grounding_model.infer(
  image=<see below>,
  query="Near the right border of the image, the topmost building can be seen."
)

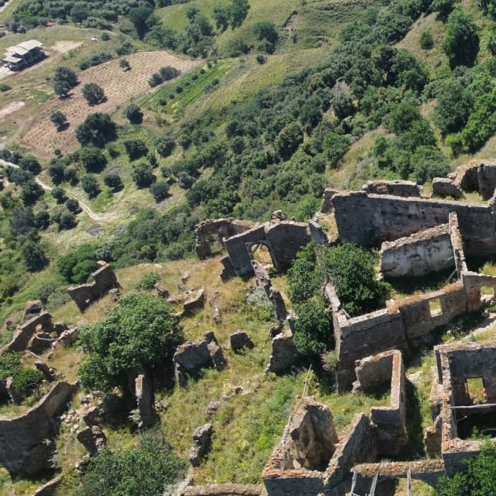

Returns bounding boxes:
[316,191,496,381]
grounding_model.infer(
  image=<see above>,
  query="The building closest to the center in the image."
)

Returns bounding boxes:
[220,211,309,287]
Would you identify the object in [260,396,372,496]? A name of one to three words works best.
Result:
house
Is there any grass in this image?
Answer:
Yes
